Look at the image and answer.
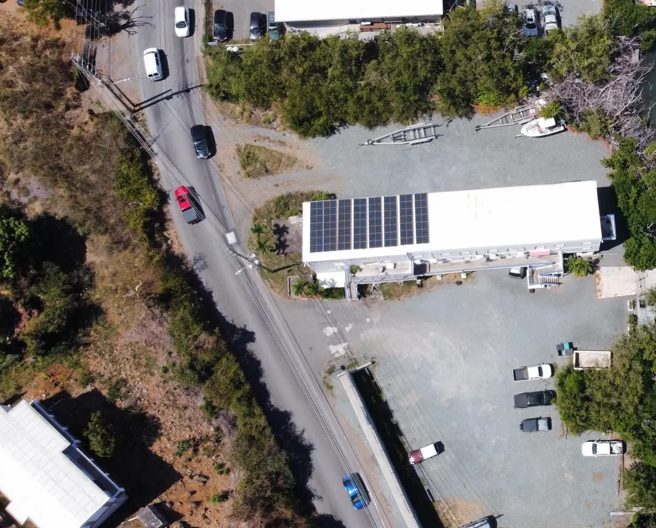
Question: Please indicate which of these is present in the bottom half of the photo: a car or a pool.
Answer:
car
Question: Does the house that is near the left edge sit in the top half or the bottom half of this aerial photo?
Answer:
bottom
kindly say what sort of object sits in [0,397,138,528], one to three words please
house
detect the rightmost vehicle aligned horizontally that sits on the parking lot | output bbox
[580,439,624,458]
